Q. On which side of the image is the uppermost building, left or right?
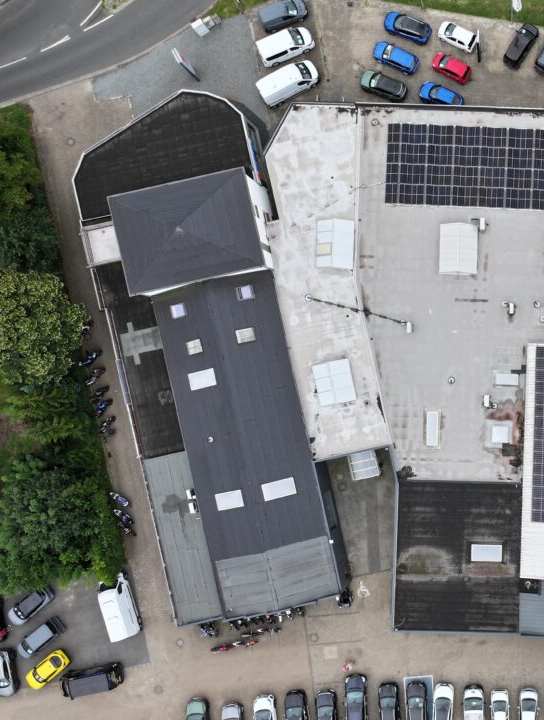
left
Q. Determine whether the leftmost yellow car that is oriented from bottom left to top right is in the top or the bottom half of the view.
bottom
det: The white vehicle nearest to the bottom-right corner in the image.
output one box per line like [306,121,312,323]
[517,686,540,720]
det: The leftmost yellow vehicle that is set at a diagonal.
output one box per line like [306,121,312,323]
[28,648,73,688]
